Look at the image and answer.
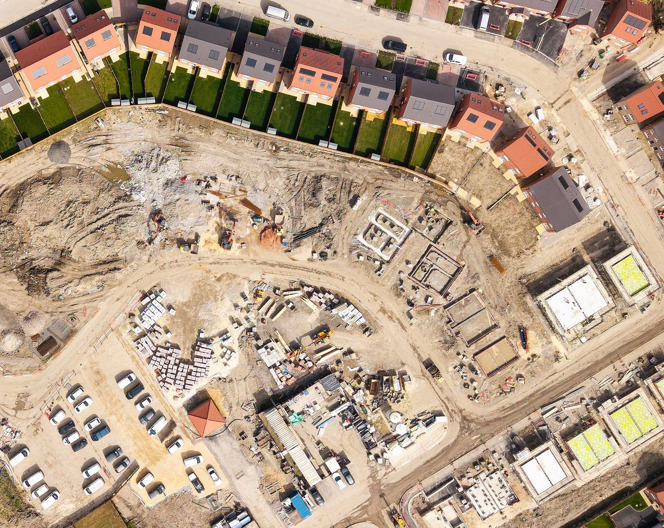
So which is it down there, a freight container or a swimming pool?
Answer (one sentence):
I can see a freight container in this picture.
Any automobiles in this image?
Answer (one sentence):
Yes, there's an automobile down there.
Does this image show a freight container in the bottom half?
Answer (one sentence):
Yes, in the bottom half there is a freight container.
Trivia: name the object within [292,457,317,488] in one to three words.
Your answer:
shipping container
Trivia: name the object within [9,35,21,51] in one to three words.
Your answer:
vehicle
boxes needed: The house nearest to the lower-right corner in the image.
[642,472,664,517]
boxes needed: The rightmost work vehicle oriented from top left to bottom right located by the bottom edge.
[386,505,406,528]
